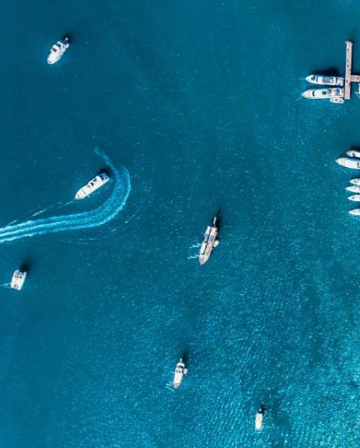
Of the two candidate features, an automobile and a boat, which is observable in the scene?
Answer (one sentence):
The image shows a boat.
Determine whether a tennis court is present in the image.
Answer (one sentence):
No, the frame has no tennis court in it.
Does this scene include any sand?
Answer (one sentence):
No, the scene doesn't show any sand.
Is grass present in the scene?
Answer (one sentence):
No, the scene doesn't show any grass.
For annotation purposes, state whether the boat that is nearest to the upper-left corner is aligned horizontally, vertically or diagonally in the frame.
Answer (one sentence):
I'd say the boat that is nearest to the upper-left corner is aligned diagonally in the picture.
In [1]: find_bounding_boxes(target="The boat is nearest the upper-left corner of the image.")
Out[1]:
[49,38,72,61]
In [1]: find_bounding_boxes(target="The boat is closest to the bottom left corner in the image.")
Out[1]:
[1,267,27,290]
